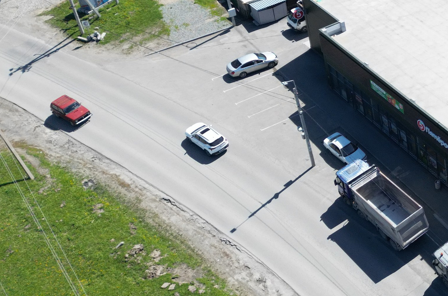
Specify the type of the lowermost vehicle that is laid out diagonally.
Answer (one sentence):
The lowermost vehicle that is laid out diagonally is a truck.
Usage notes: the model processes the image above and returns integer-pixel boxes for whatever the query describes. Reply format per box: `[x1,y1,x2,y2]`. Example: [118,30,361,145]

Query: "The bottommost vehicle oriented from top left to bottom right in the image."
[323,165,427,257]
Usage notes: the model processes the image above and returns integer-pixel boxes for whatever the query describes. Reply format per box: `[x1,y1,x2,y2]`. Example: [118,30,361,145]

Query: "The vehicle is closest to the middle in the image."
[186,125,230,158]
